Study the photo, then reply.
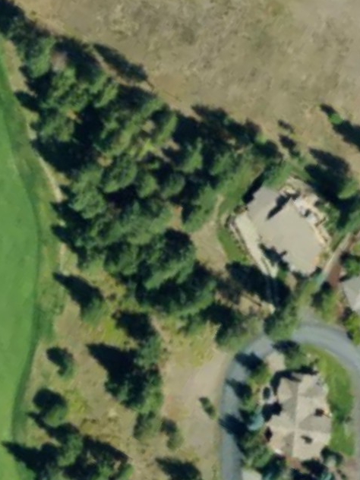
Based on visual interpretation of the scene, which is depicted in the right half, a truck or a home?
home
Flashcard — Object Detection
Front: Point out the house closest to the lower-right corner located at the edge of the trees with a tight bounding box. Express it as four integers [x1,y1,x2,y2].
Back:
[261,352,334,465]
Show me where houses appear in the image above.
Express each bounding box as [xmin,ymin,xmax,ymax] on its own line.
[245,185,333,283]
[261,352,334,465]
[334,274,360,312]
